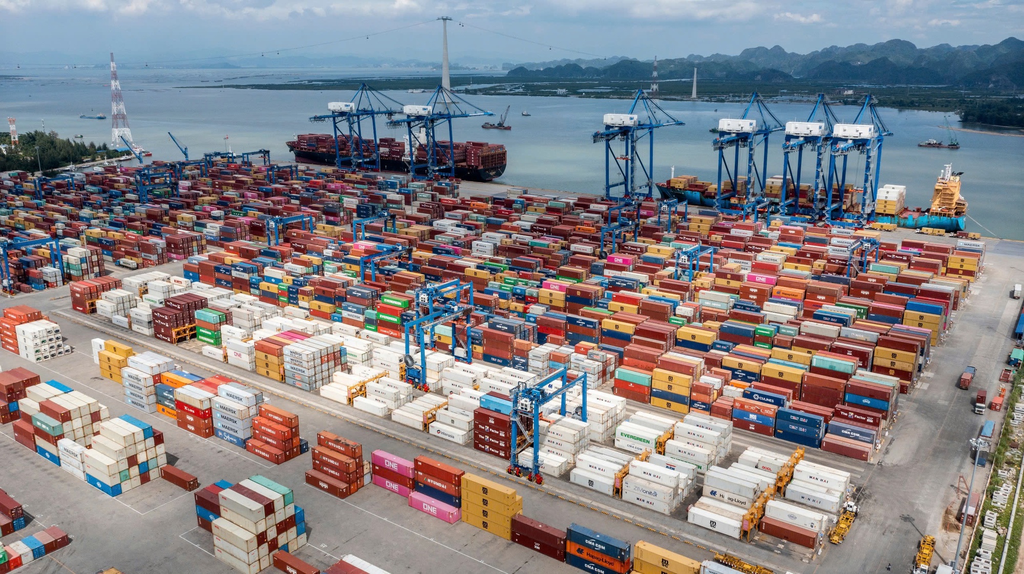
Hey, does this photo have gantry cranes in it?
Yes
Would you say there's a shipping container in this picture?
Yes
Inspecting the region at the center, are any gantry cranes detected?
Yes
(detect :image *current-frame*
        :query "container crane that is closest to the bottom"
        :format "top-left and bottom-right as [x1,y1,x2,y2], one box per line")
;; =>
[504,361,603,485]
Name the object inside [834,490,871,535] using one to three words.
work vehicle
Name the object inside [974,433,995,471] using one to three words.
truck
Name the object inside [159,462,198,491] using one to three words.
shipping container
